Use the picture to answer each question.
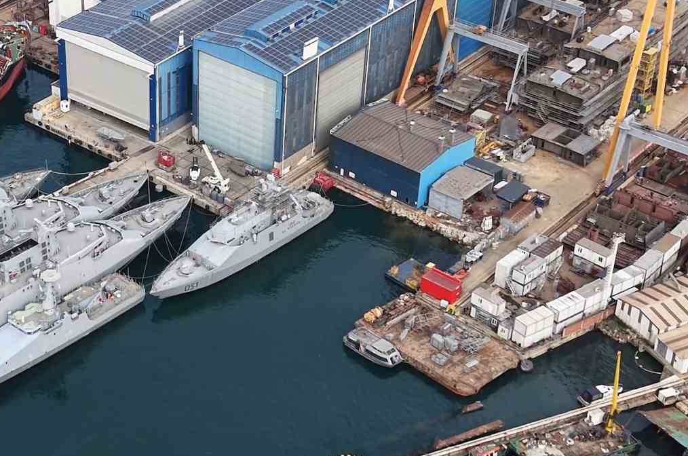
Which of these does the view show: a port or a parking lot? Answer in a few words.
port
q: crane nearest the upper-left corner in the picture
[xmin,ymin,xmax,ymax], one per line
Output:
[196,141,237,198]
